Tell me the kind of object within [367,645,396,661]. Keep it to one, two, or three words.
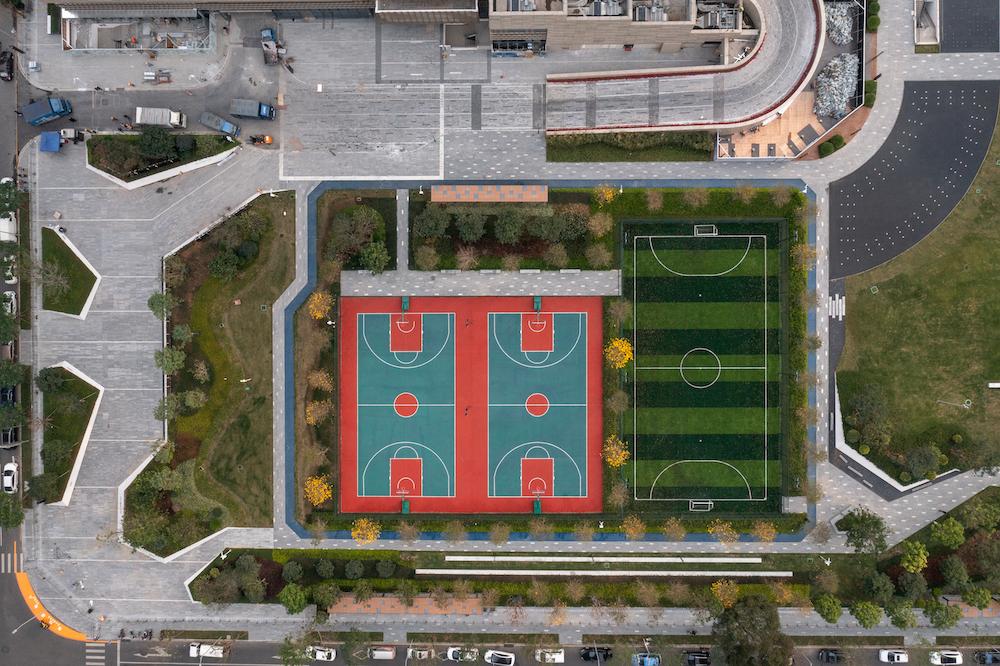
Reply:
car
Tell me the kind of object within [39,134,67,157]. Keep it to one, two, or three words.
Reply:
tent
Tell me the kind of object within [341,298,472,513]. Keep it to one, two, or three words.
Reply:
basketball court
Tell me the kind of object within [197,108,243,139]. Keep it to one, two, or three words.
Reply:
truck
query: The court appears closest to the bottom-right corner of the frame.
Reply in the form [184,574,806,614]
[472,298,604,513]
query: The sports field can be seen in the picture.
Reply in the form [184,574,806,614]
[626,224,780,513]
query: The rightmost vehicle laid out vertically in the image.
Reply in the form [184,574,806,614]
[258,26,281,66]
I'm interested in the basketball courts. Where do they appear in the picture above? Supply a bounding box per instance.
[472,298,604,513]
[341,298,472,513]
